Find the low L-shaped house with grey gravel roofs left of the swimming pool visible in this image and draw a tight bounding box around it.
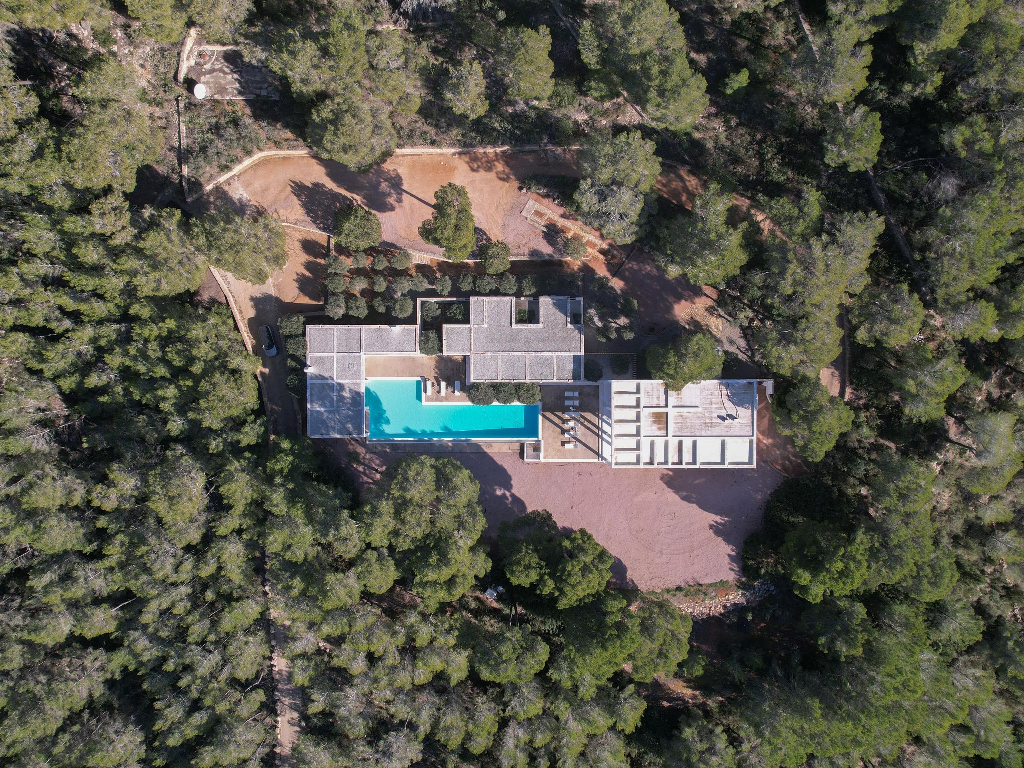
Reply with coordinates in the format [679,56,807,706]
[303,324,422,438]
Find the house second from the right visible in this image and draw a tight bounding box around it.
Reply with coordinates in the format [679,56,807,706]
[442,296,584,385]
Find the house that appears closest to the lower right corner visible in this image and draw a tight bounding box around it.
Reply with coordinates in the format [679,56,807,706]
[603,380,758,469]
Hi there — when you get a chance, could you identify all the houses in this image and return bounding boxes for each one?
[303,324,422,438]
[442,296,584,385]
[603,380,758,469]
